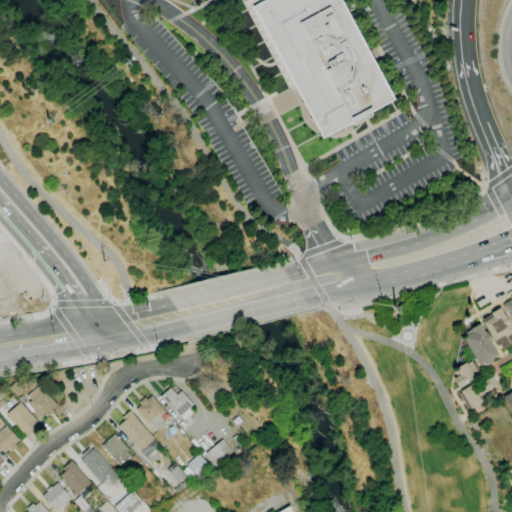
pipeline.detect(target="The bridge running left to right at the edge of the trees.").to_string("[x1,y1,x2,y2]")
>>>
[150,258,306,344]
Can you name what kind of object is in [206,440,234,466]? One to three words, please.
barn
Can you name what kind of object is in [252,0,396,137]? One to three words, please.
building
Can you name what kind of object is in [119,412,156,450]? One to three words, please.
house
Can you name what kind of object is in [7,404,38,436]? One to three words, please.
house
